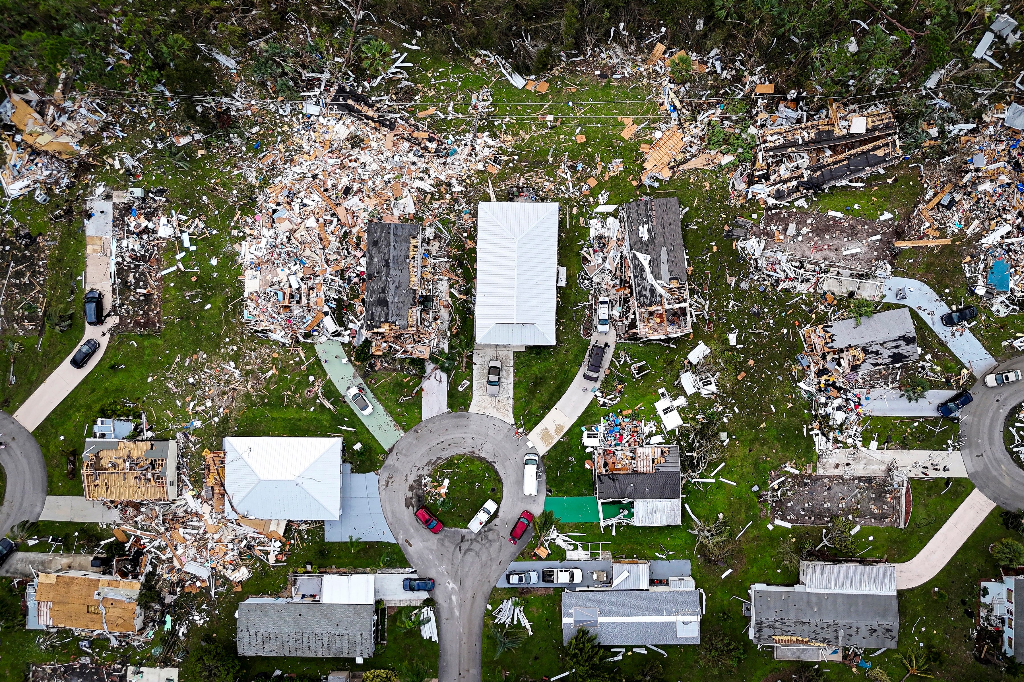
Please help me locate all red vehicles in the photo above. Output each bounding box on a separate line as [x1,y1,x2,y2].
[412,505,444,535]
[505,508,534,547]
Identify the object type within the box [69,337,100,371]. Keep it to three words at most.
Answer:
car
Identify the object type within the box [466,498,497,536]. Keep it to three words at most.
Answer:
truck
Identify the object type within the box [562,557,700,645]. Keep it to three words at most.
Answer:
house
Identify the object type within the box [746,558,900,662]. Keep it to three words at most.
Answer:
house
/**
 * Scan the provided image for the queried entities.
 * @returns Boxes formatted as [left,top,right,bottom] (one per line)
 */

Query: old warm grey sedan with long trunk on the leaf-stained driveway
[486,359,502,397]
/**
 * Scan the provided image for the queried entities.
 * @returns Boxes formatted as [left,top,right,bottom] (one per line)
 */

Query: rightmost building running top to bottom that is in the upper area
[623,197,692,340]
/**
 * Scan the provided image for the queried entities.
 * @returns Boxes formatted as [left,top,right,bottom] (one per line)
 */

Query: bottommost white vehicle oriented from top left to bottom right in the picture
[348,385,374,417]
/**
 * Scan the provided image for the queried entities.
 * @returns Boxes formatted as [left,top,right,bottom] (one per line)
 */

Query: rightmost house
[979,571,1024,664]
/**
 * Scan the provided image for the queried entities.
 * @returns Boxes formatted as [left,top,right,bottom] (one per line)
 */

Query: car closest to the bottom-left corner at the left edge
[0,534,21,568]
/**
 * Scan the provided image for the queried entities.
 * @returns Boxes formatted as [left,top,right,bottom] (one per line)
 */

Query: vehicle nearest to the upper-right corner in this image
[939,306,978,326]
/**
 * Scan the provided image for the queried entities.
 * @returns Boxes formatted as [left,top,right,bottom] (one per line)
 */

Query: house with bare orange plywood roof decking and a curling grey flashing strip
[26,554,150,646]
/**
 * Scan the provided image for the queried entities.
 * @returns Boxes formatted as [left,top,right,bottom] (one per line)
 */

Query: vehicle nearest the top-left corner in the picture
[83,290,104,326]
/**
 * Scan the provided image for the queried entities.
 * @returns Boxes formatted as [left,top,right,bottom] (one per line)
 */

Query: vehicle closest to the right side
[983,369,1023,387]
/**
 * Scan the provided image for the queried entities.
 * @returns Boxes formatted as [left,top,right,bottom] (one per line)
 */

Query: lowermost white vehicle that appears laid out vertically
[522,453,542,497]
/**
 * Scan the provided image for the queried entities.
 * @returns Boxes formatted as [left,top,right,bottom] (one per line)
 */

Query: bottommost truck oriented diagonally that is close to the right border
[934,387,975,420]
